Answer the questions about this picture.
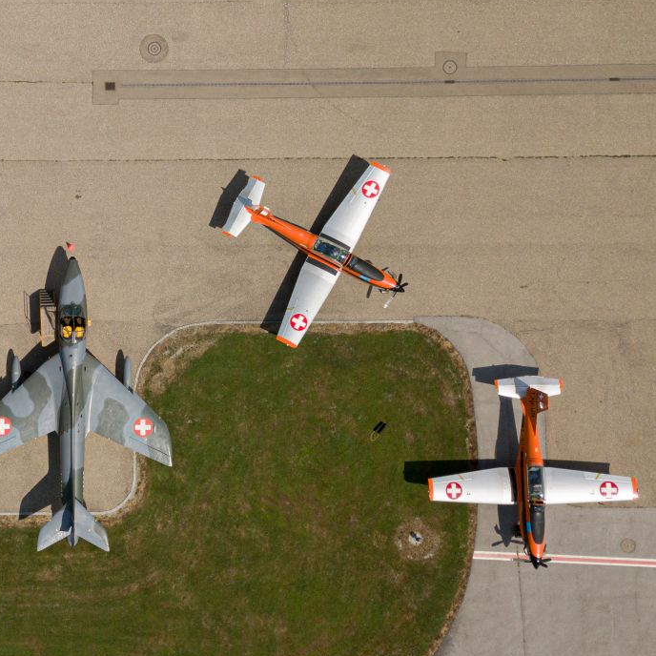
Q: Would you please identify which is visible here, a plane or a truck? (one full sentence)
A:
This aerial view contains a plane.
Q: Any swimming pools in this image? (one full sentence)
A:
No, there's no swimming pool here.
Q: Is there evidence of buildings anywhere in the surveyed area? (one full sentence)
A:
No, I can't see a single building in this photo.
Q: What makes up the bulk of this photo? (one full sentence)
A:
For the most part, this view shows paved ground.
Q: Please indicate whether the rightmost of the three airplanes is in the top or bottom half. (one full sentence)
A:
The rightmost of the three airplanes is in the bottom half of the image.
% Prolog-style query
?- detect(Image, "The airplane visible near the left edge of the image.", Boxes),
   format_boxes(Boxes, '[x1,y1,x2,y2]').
[0,255,173,551]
